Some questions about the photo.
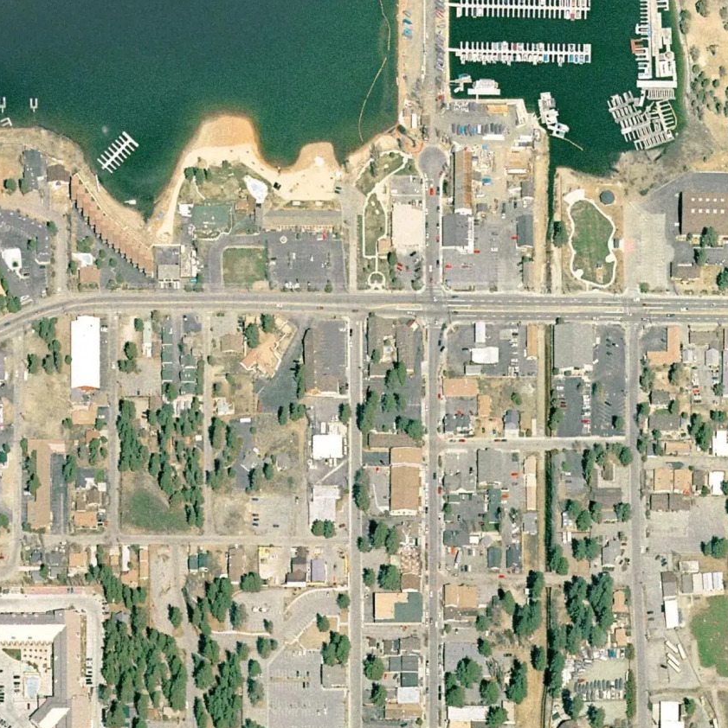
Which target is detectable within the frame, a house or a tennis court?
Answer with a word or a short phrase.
house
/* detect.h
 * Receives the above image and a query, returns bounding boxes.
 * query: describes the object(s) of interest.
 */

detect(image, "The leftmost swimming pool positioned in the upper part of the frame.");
[72,251,96,265]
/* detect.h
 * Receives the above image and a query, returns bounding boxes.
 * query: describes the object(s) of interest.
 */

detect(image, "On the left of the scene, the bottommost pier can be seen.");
[95,131,139,175]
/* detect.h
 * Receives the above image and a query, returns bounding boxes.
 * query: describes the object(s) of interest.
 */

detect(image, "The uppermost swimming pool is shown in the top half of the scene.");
[244,172,268,203]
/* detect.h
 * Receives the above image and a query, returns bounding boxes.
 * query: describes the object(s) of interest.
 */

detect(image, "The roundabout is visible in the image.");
[418,145,447,175]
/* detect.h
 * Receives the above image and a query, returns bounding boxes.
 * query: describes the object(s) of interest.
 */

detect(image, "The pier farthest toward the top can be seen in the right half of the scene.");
[446,0,590,18]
